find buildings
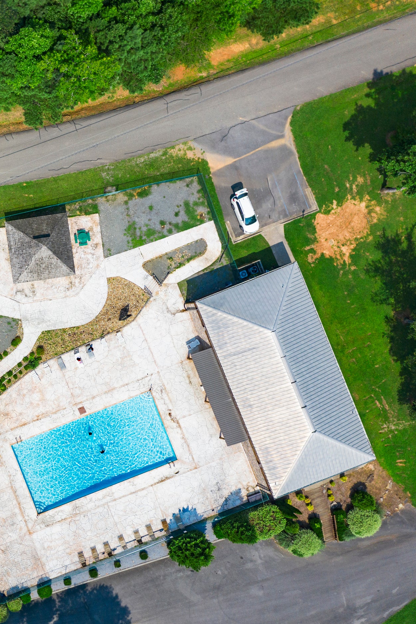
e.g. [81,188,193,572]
[186,260,377,500]
[4,212,76,284]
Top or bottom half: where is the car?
top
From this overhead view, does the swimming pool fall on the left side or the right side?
left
